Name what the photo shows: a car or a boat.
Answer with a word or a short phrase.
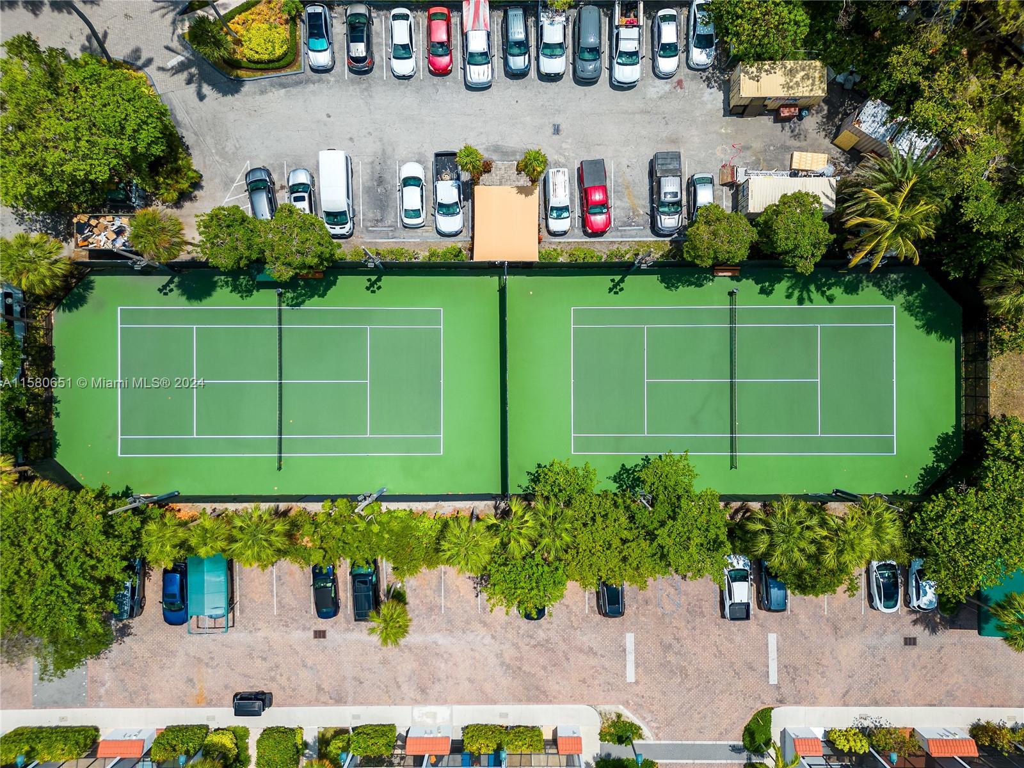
car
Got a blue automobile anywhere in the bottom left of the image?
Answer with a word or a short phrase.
Yes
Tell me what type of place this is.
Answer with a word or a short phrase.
sports ground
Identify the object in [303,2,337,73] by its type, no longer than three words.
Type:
car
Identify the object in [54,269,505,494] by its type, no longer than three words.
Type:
tennis court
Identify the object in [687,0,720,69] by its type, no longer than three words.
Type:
car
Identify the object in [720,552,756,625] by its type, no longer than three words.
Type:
vehicle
